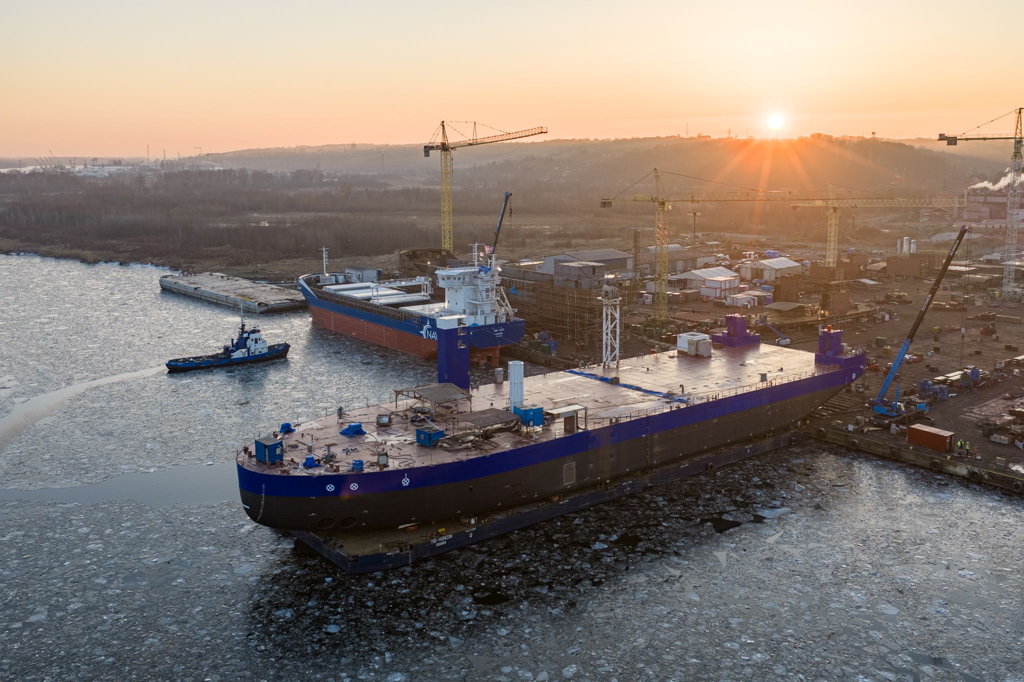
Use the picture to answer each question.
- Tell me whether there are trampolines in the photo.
No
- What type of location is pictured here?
port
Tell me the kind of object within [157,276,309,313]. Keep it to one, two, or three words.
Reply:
pier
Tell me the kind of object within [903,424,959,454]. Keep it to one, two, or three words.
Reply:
shipping container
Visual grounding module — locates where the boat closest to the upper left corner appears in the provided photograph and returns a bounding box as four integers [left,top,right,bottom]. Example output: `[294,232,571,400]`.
[161,293,286,371]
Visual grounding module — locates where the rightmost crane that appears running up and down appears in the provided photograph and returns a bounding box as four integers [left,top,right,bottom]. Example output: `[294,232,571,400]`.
[936,108,1024,301]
